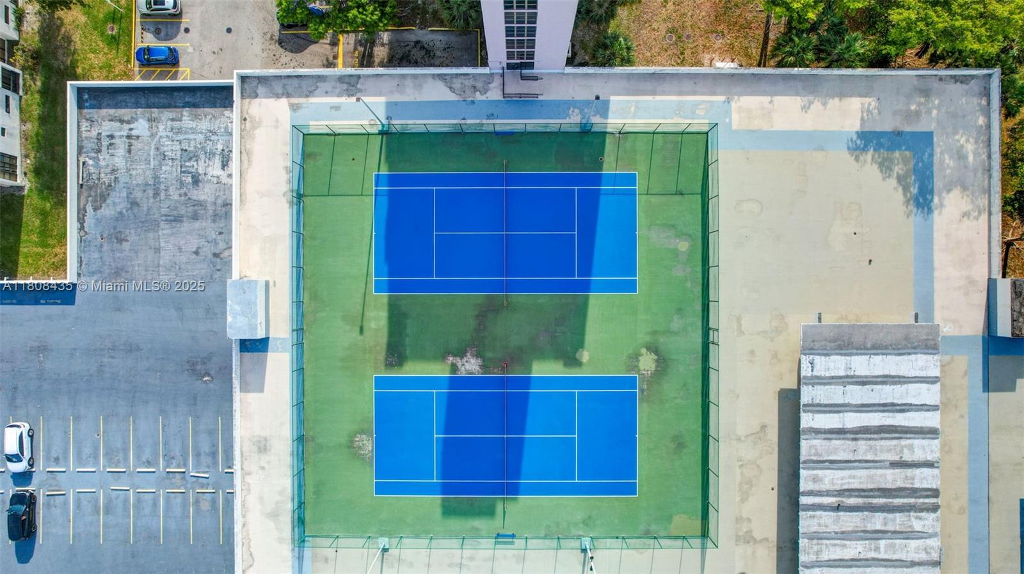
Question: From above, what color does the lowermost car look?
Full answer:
The lowermost car looks black in the image.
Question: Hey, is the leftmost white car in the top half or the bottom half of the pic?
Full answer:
The leftmost white car sits in the bottom half of the picture.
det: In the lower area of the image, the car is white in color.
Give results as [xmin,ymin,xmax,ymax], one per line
[3,423,33,472]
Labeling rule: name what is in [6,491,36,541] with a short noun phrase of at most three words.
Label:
car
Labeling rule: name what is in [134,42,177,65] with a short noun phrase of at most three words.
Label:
car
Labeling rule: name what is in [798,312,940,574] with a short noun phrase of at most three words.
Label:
building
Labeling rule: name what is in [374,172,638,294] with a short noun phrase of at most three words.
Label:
tennis court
